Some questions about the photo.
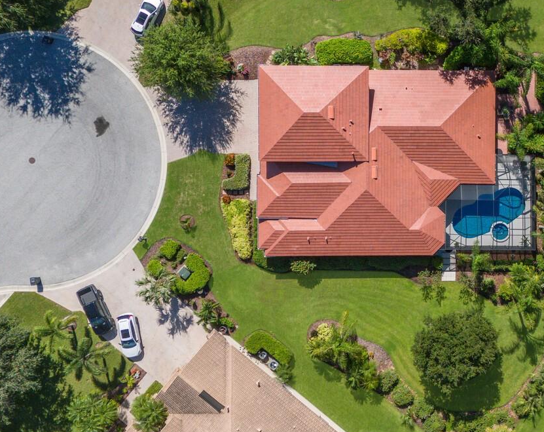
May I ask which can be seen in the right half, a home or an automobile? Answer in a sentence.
Visible in the right half is a home.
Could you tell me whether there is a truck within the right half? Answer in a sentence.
No, I can find no truck within the right half.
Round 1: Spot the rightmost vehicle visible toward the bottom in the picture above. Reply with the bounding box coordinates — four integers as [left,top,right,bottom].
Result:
[118,311,145,358]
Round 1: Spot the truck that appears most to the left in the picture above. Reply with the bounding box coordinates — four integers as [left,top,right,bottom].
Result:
[77,280,119,338]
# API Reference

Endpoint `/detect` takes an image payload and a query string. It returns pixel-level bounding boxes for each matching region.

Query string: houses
[123,330,341,432]
[256,66,496,257]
